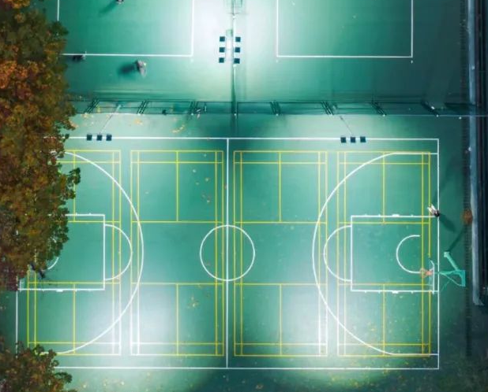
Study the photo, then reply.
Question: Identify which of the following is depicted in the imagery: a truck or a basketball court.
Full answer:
Of the two, only a basketball court appears.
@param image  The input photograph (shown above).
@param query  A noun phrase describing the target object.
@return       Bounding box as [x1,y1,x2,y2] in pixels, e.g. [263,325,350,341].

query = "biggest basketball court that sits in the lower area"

[11,135,444,372]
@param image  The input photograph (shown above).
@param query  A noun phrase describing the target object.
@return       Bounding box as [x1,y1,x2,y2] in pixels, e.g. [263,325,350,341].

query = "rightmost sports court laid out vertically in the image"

[337,151,431,357]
